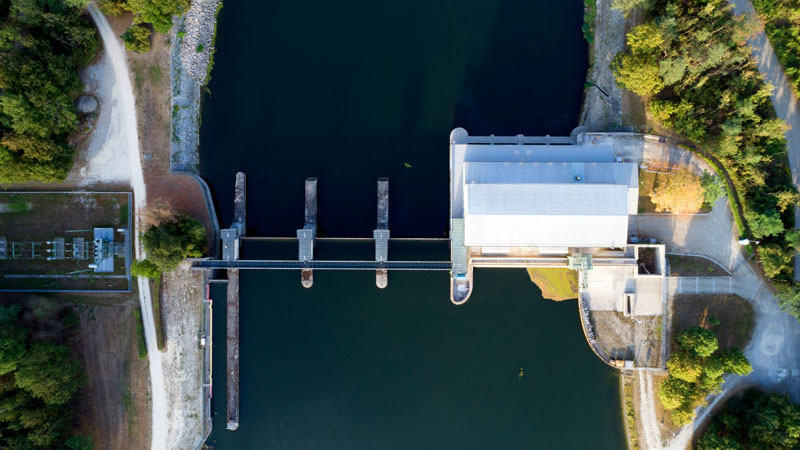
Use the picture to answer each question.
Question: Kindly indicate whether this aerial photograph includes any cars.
No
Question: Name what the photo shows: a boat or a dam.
dam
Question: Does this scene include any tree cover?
Yes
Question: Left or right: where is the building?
right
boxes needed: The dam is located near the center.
[222,172,448,289]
